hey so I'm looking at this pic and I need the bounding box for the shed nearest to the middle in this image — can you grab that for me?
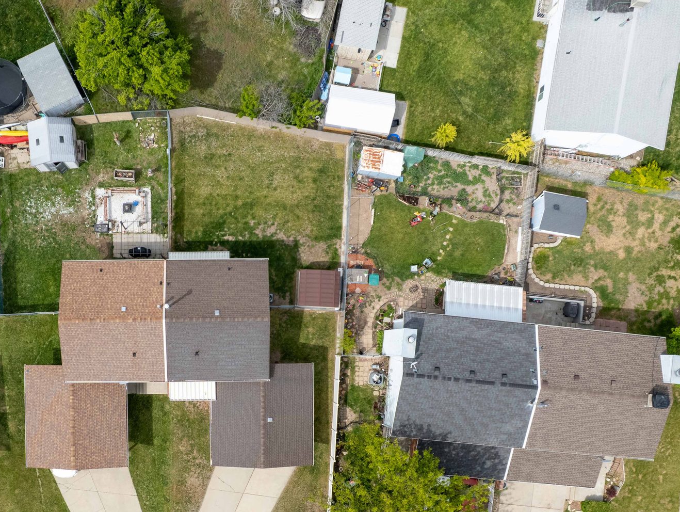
[296,269,339,309]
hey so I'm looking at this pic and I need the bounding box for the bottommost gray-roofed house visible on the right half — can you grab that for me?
[380,280,680,495]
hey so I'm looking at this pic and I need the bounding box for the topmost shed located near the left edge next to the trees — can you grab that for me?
[18,42,88,118]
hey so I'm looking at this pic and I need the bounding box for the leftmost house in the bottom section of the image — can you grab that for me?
[24,250,315,470]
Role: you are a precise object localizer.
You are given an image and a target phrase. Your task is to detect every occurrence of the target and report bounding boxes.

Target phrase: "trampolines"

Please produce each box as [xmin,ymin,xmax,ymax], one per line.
[0,54,30,120]
[388,131,399,143]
